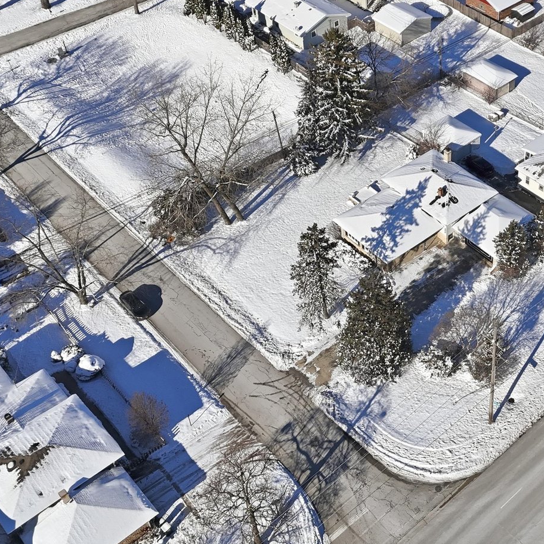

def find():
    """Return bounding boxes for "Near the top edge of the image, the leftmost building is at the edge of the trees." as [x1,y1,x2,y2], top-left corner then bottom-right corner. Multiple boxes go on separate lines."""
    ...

[245,0,351,51]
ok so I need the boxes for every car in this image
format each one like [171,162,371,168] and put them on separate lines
[462,153,496,180]
[118,291,151,321]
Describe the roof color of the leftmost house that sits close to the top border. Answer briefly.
white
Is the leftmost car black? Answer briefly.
Yes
